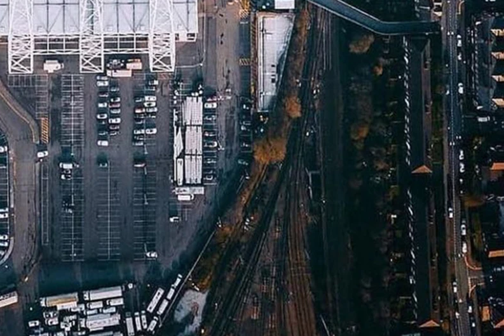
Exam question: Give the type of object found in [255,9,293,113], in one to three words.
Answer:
shed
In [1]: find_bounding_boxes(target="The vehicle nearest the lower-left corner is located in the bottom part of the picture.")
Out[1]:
[0,291,19,307]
